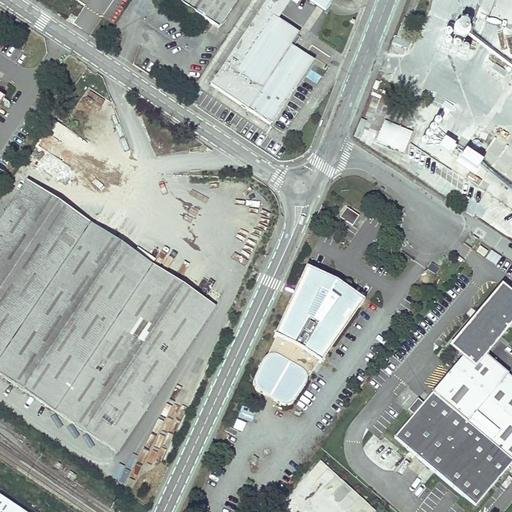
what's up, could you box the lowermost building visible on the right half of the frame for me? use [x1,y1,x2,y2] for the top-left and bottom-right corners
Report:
[290,460,378,512]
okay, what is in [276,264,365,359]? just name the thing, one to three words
building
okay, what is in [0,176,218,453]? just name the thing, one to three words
warehouse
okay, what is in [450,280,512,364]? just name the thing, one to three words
building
